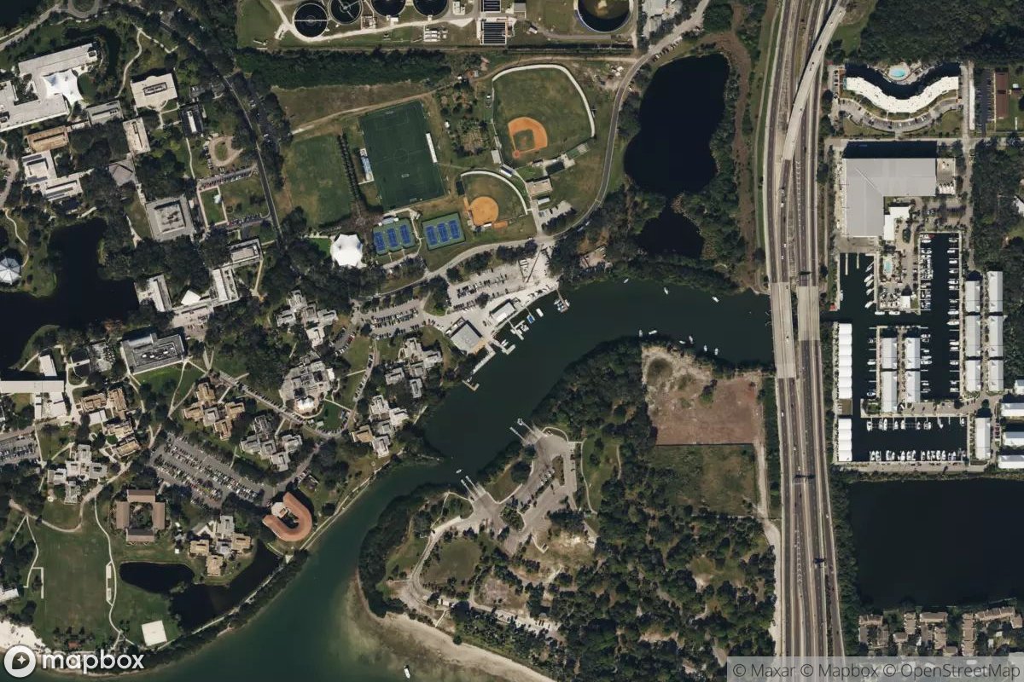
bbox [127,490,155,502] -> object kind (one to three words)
building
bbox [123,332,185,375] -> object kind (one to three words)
building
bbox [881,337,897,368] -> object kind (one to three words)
house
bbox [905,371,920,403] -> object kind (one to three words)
house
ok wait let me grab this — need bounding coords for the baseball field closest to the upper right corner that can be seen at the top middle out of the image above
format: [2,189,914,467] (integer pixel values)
[492,64,595,163]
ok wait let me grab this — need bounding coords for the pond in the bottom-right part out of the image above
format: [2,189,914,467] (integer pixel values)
[848,478,1024,608]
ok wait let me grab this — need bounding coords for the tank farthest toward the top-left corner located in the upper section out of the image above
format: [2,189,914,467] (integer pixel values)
[293,3,328,37]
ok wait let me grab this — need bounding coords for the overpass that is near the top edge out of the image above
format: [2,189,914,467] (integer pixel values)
[783,0,850,162]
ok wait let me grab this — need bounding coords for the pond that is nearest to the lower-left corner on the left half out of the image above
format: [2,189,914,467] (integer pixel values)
[120,539,281,633]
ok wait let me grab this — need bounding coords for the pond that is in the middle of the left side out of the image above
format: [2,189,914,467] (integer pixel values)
[0,218,139,370]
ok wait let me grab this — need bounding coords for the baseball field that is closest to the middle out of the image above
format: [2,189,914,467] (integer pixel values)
[461,169,527,225]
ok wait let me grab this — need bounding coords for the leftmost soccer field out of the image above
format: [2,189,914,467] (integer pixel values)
[358,100,446,212]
